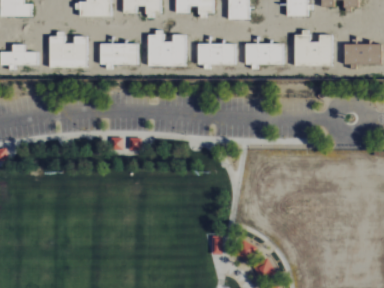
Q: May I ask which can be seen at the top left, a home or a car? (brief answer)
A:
home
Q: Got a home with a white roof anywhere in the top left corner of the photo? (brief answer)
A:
Yes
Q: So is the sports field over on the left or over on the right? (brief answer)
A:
left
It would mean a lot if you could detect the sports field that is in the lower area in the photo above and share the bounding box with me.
[0,136,233,288]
